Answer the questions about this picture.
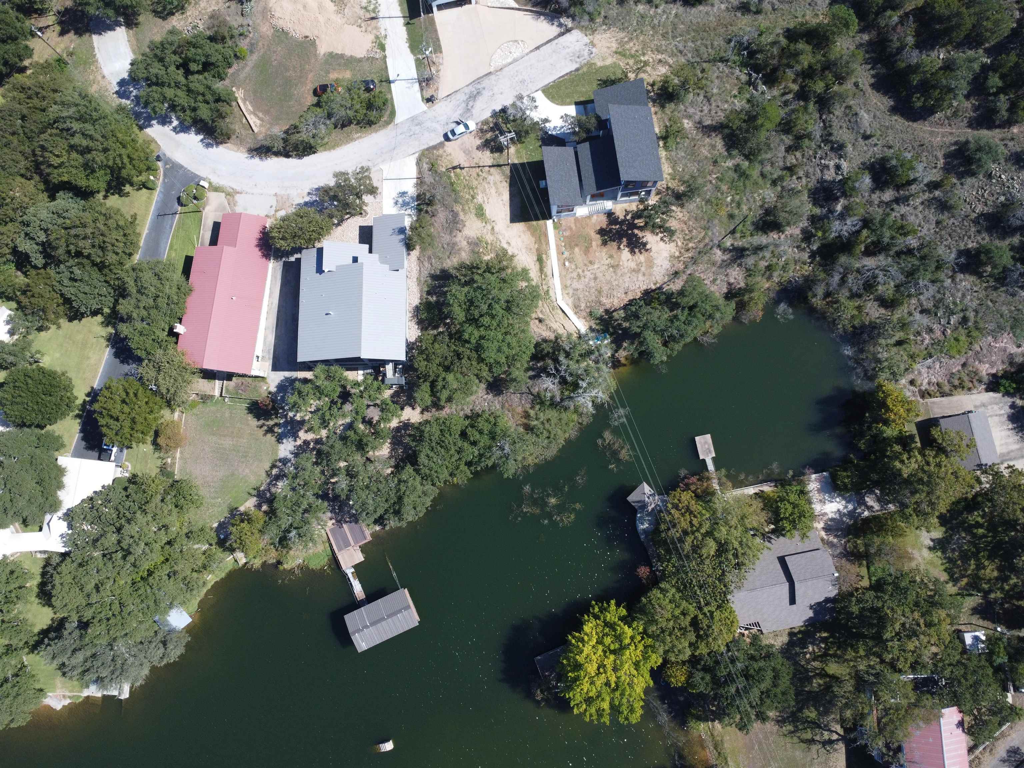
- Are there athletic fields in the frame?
No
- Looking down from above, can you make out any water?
Yes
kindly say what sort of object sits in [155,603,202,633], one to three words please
shed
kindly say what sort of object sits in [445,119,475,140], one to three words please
car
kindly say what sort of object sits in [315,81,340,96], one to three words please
car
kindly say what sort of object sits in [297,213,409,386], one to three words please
house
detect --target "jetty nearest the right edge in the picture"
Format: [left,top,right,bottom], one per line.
[695,434,724,497]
